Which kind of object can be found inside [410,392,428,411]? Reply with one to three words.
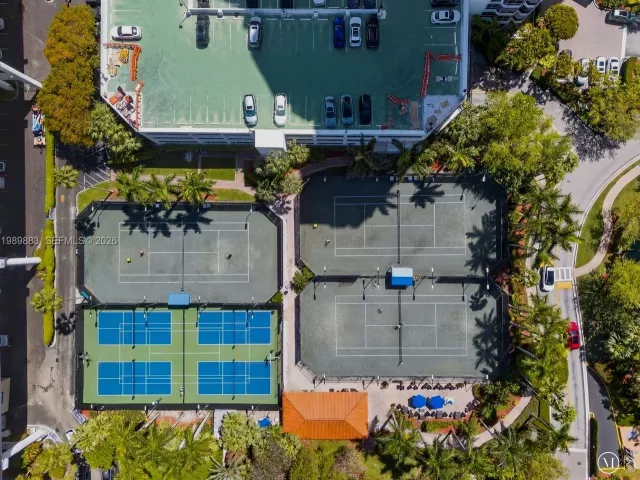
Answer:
umbrella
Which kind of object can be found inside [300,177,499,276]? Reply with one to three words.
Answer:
tennis court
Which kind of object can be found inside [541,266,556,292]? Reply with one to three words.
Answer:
car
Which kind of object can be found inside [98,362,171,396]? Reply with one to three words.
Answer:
sports court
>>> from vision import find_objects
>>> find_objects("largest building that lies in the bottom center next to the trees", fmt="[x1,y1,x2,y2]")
[282,388,368,439]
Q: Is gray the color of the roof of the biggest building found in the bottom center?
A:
No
